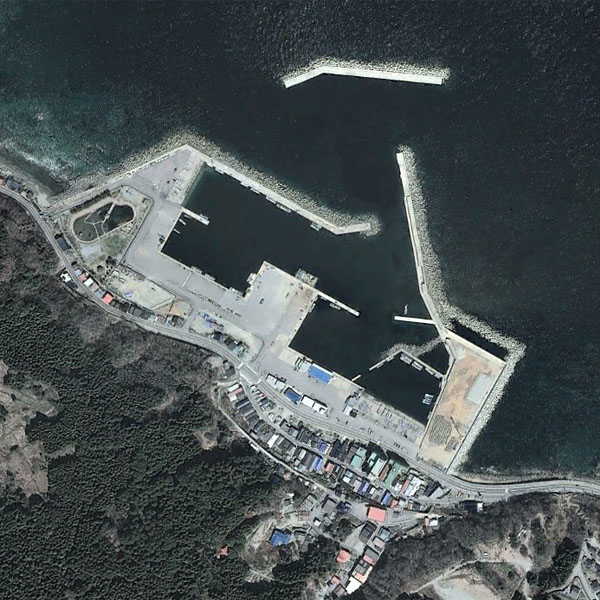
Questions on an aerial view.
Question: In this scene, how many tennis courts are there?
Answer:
0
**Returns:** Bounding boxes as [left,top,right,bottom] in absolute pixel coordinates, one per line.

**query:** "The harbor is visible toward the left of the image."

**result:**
[52,146,424,449]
